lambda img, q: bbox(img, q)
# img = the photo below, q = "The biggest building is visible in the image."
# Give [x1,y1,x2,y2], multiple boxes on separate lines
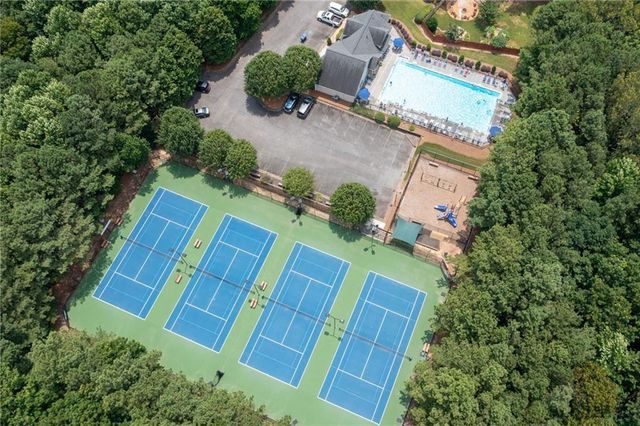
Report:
[314,11,392,104]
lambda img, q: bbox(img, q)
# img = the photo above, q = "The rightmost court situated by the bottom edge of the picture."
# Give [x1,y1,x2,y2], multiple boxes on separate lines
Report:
[318,270,427,425]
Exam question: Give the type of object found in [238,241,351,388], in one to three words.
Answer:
tennis court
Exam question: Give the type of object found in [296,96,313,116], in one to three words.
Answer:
car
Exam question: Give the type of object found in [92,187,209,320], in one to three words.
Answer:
tennis court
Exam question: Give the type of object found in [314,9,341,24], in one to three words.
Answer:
vehicle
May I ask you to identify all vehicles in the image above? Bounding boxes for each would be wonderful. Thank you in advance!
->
[188,81,211,91]
[327,0,349,16]
[189,105,210,116]
[314,9,341,24]
[296,96,313,116]
[282,91,298,112]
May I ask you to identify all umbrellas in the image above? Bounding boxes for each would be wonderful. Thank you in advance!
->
[488,126,501,139]
[358,87,371,101]
[391,39,404,52]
